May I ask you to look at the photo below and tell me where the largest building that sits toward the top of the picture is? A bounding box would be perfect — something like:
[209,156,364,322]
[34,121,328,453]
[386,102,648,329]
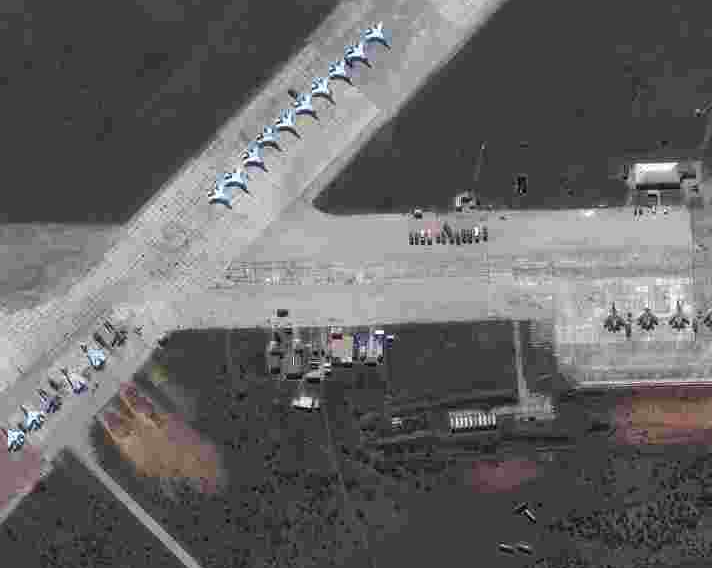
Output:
[634,163,679,187]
